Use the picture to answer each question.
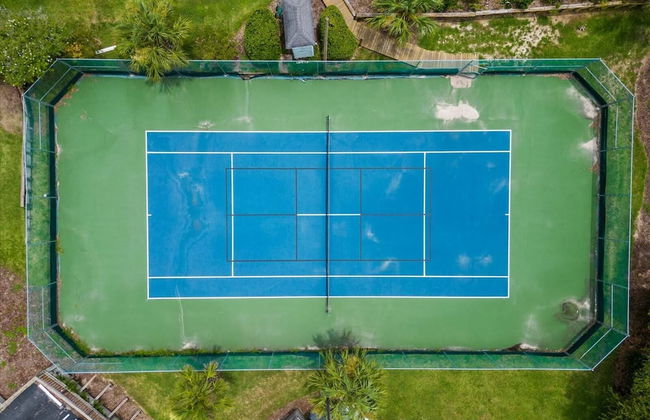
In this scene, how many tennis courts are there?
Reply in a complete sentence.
Just 1 tennis court appears in this view.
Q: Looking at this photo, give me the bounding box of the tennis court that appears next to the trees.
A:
[55,74,602,354]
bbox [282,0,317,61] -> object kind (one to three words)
shed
